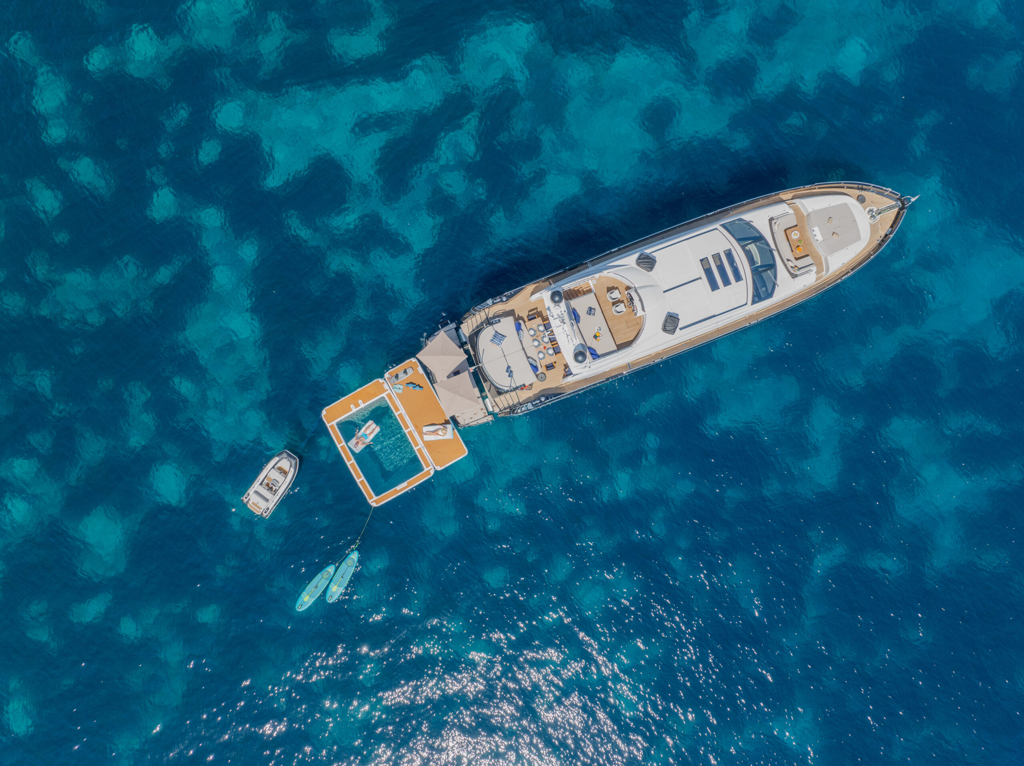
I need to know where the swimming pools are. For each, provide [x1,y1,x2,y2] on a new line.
[321,378,435,506]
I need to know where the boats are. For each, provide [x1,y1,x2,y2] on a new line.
[242,449,299,519]
[425,181,919,428]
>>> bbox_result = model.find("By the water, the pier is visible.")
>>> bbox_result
[385,358,468,471]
